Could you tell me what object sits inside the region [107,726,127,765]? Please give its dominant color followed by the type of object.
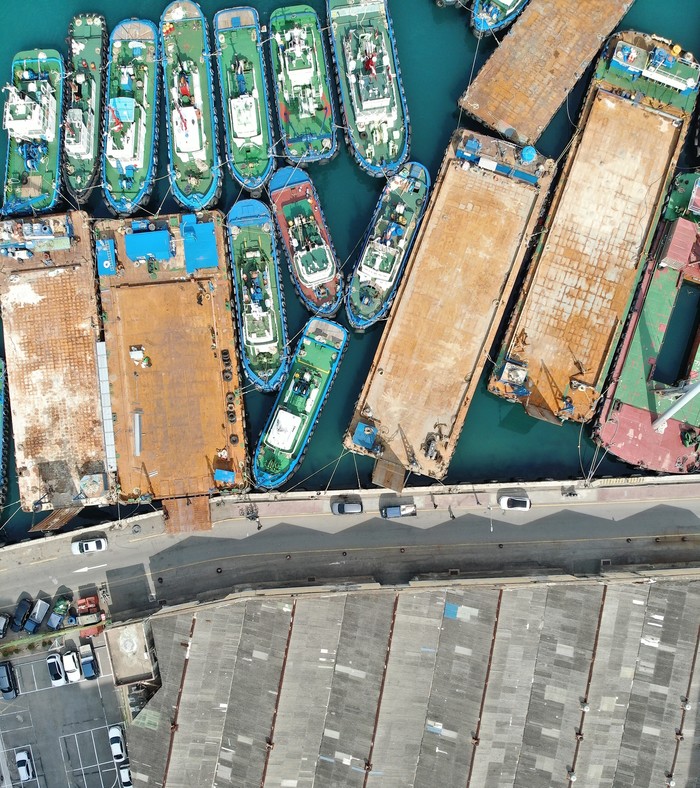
white car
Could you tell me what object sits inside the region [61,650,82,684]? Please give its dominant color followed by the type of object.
white car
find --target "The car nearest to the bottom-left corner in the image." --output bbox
[15,750,35,784]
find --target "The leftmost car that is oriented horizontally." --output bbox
[70,537,108,556]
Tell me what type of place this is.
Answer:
parking lot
